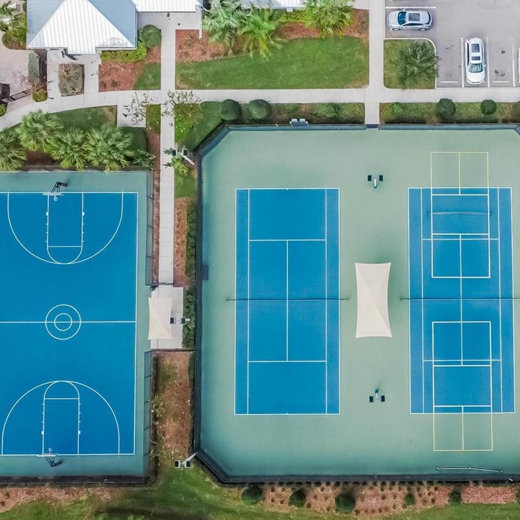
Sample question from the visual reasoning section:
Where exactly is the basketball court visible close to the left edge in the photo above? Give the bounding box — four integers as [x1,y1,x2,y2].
[0,172,153,478]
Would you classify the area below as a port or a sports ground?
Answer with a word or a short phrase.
sports ground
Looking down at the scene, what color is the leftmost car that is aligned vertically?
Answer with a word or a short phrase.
white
